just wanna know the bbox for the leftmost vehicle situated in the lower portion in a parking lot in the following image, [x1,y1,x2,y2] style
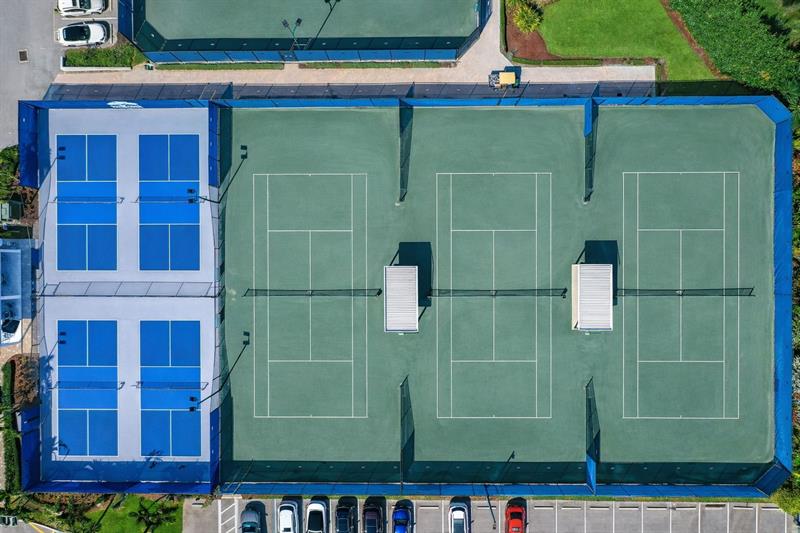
[238,506,262,533]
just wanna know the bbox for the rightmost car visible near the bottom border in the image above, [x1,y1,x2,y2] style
[505,504,525,533]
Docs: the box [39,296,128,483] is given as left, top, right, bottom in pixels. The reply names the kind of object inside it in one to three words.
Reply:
sports court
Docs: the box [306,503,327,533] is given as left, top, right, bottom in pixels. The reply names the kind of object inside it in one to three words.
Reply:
car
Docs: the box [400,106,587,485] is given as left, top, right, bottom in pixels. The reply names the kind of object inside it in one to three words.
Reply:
tennis court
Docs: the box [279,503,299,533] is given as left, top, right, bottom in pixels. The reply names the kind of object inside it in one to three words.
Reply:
car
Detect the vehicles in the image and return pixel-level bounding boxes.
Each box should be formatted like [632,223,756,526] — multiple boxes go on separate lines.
[448,503,469,533]
[306,503,327,533]
[334,504,355,533]
[391,507,413,533]
[54,0,108,19]
[279,503,299,533]
[56,21,108,48]
[362,504,382,533]
[505,504,525,533]
[238,506,262,533]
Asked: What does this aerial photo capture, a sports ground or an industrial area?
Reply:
sports ground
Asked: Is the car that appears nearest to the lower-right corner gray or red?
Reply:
red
